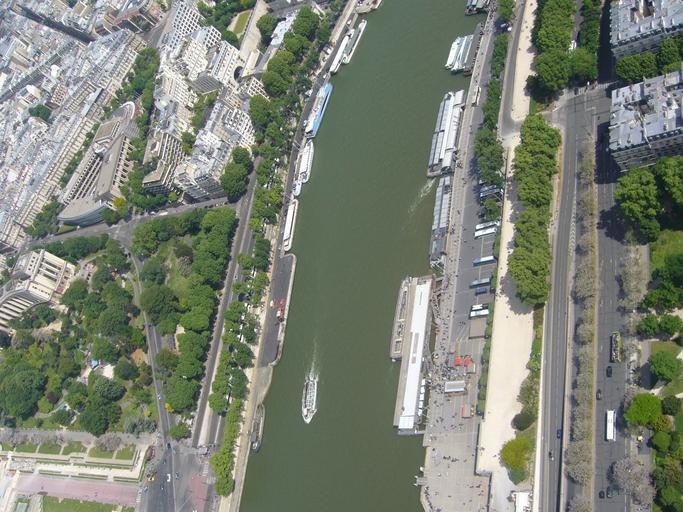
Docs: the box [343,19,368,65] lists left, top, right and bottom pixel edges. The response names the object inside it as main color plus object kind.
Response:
white ship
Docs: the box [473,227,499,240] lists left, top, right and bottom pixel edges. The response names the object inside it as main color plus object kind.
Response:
white vehicle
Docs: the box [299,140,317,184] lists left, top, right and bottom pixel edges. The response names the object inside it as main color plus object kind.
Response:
white boat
